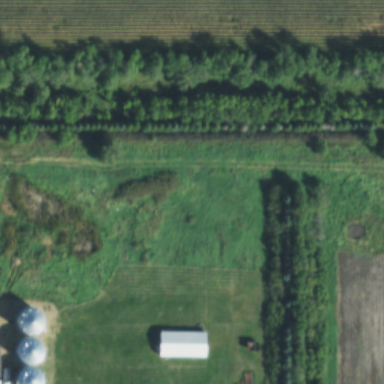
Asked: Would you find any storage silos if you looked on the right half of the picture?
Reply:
No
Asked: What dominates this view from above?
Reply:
grass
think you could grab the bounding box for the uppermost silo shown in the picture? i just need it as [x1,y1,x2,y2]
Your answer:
[14,308,43,336]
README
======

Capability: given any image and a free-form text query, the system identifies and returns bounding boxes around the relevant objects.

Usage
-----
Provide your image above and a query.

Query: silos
[14,367,43,384]
[14,337,44,366]
[14,308,43,336]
